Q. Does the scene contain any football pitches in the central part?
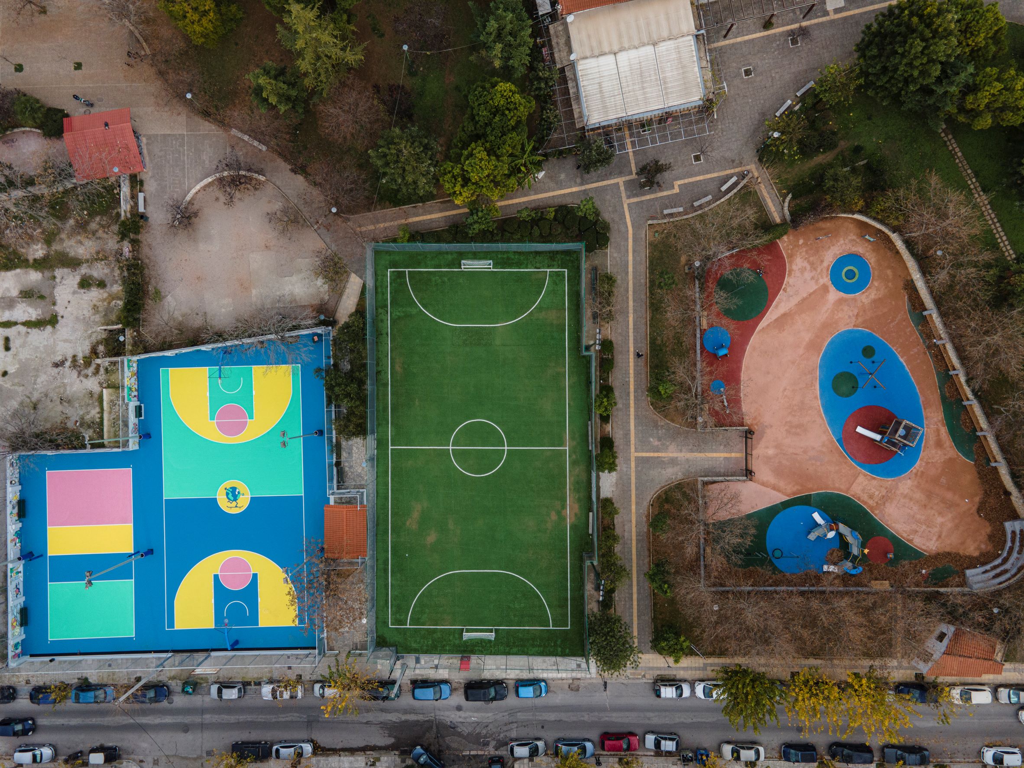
Yes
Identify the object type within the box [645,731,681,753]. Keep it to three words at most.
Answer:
car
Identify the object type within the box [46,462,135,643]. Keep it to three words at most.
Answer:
sports court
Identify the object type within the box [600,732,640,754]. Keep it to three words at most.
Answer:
car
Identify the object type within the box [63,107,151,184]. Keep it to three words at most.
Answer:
shed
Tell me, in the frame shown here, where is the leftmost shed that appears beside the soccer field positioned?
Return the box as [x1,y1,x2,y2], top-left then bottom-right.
[324,503,370,559]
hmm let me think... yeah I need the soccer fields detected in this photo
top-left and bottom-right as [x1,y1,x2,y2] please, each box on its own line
[374,251,593,656]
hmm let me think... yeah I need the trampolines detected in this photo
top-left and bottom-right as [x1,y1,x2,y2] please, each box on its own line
[843,267,859,283]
